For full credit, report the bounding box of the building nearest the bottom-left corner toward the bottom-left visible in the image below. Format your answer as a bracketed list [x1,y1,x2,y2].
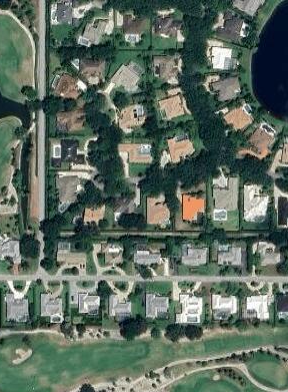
[6,294,27,323]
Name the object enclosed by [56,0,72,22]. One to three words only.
house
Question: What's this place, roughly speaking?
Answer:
residential area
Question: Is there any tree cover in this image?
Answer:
Yes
